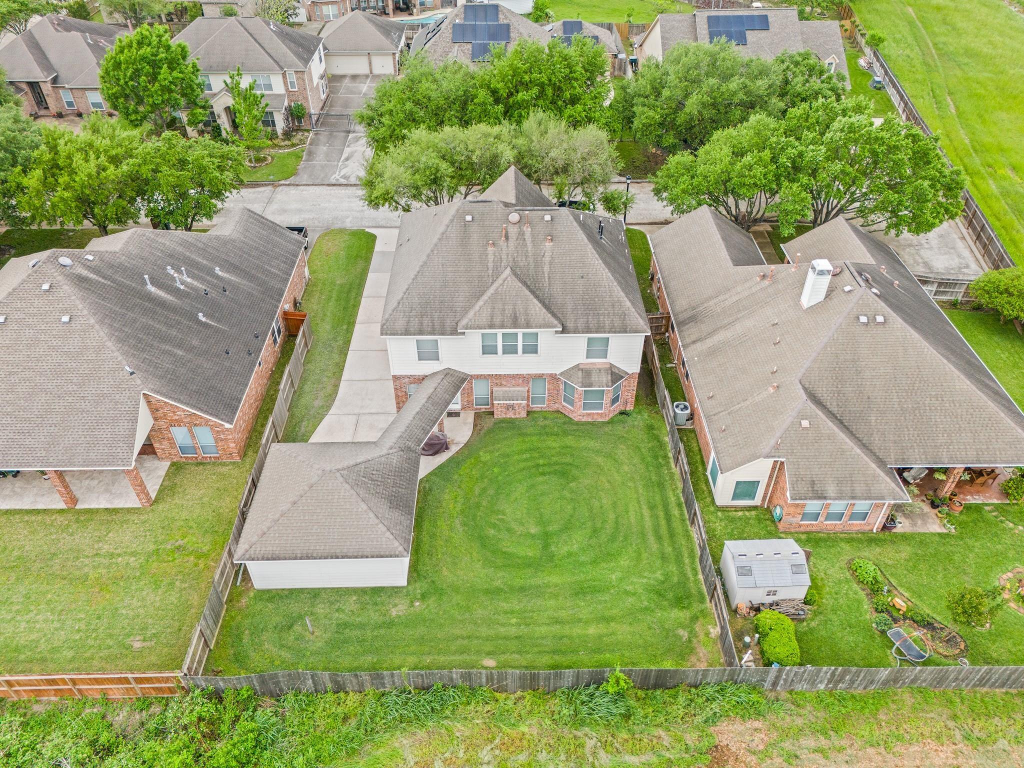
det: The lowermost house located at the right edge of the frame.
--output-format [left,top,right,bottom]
[647,205,1024,535]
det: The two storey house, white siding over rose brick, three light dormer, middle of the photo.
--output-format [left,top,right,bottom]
[379,166,652,421]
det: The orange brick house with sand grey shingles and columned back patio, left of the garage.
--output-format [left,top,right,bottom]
[0,208,309,508]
